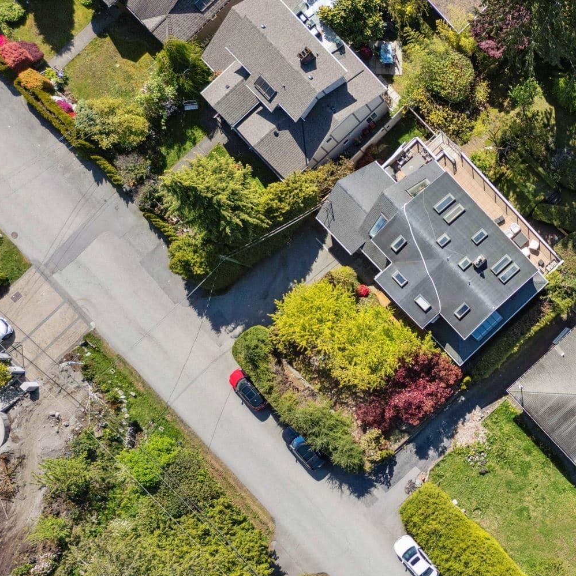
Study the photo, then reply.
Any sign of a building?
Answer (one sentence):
Yes, a building appears in the view.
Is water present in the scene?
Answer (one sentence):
No, the scene doesn't show any water.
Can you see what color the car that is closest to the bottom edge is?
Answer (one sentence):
The car that is closest to the bottom edge is white.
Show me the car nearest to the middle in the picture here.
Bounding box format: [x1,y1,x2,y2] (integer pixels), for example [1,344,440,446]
[231,366,269,416]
